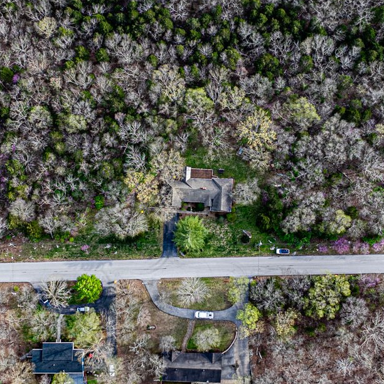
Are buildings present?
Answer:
Yes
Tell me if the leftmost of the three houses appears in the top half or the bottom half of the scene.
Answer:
bottom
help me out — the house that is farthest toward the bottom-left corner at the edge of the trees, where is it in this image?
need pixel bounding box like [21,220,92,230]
[31,340,86,384]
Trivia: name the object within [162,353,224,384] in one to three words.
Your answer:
house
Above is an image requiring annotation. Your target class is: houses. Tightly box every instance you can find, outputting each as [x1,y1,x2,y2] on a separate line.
[170,168,233,212]
[162,353,224,384]
[31,340,86,384]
